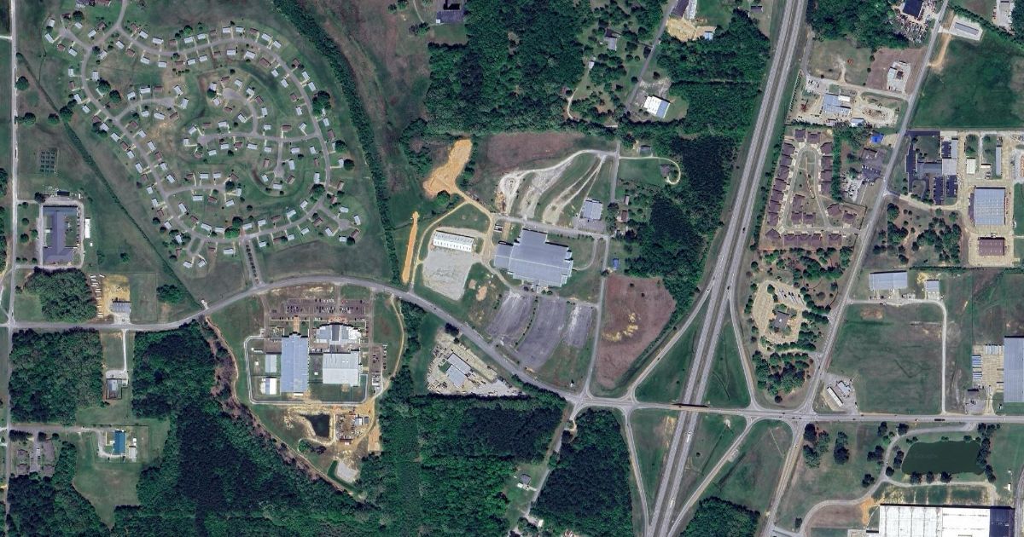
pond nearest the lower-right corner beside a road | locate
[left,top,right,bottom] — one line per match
[902,441,986,475]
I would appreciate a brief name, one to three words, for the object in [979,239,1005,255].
building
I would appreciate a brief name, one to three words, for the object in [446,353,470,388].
building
